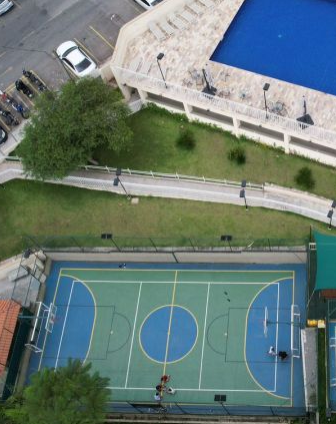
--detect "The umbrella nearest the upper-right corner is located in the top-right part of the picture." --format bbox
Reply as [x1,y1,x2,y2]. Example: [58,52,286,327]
[298,95,313,126]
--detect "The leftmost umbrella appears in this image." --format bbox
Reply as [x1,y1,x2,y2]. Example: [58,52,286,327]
[202,63,216,95]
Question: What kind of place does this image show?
sports ground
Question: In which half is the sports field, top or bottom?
bottom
